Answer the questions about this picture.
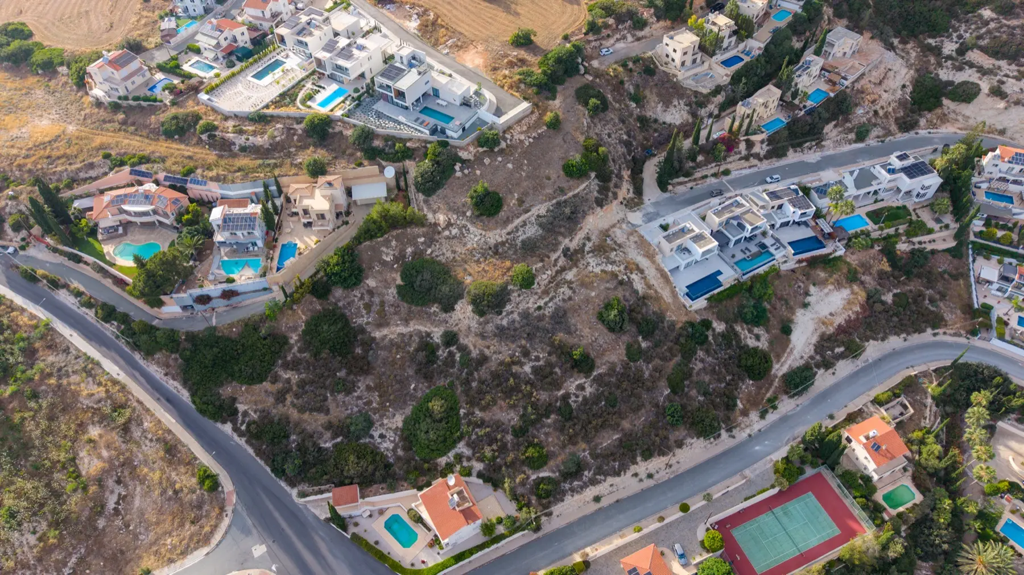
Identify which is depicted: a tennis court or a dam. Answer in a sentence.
Looking from above, you can make out a tennis court.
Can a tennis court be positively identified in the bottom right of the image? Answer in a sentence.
Yes, looking in the bottom right of the image, one can make out a tennis court.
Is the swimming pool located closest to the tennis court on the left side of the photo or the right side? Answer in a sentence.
You can find the swimming pool located closest to the tennis court on the right side of the picture.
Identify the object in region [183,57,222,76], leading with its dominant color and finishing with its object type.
white swimming pool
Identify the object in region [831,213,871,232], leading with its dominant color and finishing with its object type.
blue swimming pool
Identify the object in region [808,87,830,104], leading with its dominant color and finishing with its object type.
blue swimming pool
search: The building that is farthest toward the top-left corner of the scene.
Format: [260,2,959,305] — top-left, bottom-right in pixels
[85,46,154,95]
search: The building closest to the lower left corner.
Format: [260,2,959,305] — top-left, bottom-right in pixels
[332,484,362,512]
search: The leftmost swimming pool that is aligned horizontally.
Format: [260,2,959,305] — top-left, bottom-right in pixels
[110,240,165,263]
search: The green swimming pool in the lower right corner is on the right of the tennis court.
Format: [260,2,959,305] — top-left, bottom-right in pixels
[882,483,917,511]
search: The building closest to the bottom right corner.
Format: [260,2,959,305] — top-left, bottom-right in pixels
[845,413,911,480]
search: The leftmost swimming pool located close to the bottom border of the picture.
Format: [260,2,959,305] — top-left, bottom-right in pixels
[383,513,419,550]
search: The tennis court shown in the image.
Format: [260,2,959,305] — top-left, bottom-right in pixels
[731,492,841,574]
